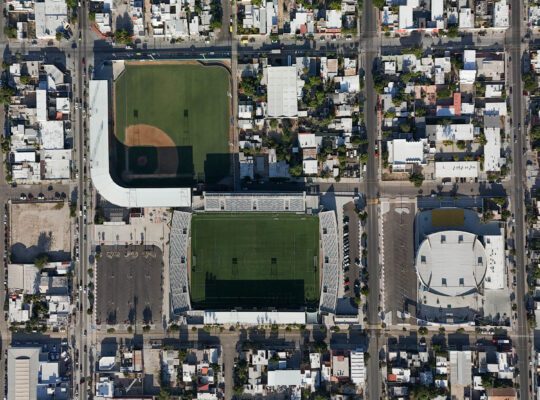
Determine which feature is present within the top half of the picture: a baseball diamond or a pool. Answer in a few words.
baseball diamond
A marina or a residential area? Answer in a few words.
residential area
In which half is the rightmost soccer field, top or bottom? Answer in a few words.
bottom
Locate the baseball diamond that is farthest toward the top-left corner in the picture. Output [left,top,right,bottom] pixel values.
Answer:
[112,61,232,186]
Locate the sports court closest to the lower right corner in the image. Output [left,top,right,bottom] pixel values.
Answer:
[432,210,464,226]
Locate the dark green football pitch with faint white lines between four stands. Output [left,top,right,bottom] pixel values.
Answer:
[187,212,323,310]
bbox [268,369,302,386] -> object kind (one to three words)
building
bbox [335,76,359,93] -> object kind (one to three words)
building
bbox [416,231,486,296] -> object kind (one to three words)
stadium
